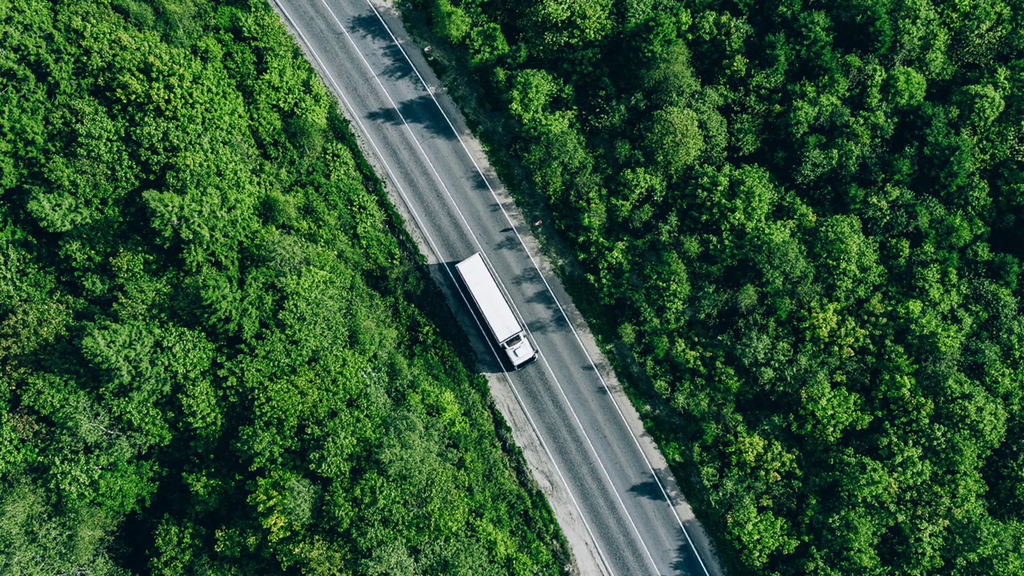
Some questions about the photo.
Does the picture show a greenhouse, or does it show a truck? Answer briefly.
truck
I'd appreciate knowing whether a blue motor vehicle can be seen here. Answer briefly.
No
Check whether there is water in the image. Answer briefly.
No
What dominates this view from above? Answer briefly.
trees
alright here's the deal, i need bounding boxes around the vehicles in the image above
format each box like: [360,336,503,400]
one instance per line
[455,252,539,369]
